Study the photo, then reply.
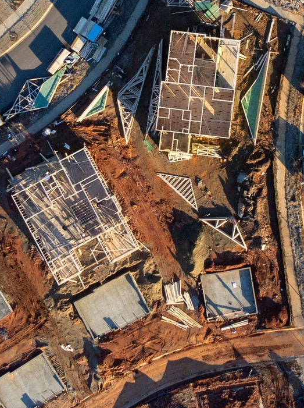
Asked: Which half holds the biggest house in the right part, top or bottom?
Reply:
top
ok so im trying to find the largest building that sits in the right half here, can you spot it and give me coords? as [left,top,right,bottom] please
[156,28,253,154]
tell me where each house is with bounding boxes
[156,28,253,154]
[8,144,150,288]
